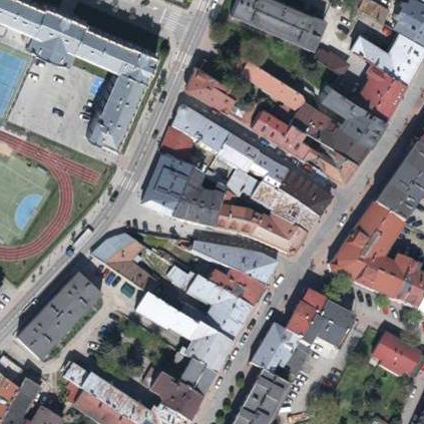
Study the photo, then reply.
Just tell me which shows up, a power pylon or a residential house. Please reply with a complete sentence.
I can see a residential house in this picture.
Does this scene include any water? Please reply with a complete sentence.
No, the scene doesn't show any water.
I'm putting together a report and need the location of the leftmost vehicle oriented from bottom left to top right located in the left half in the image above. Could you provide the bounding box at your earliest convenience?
[21,297,38,314]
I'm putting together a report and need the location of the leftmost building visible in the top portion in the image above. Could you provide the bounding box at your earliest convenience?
[0,0,158,153]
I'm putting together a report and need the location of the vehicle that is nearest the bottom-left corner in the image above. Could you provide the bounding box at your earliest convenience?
[0,355,23,373]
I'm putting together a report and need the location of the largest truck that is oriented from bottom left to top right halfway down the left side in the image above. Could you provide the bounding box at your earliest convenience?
[68,225,96,255]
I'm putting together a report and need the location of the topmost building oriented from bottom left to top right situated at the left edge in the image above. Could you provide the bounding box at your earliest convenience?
[17,271,102,360]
